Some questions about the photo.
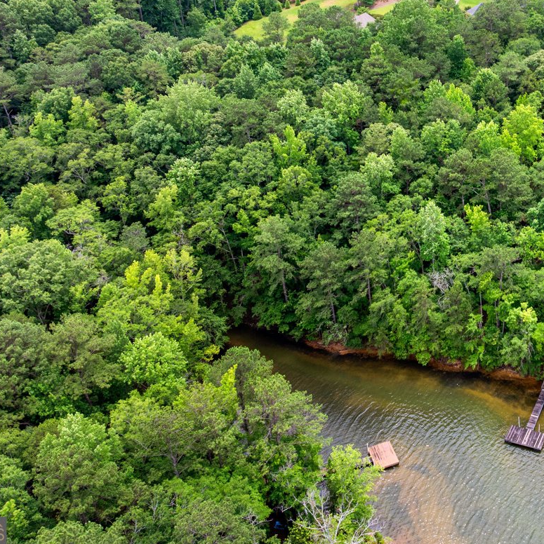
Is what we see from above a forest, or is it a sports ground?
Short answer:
forest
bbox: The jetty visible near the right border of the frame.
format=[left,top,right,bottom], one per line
[507,397,544,452]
